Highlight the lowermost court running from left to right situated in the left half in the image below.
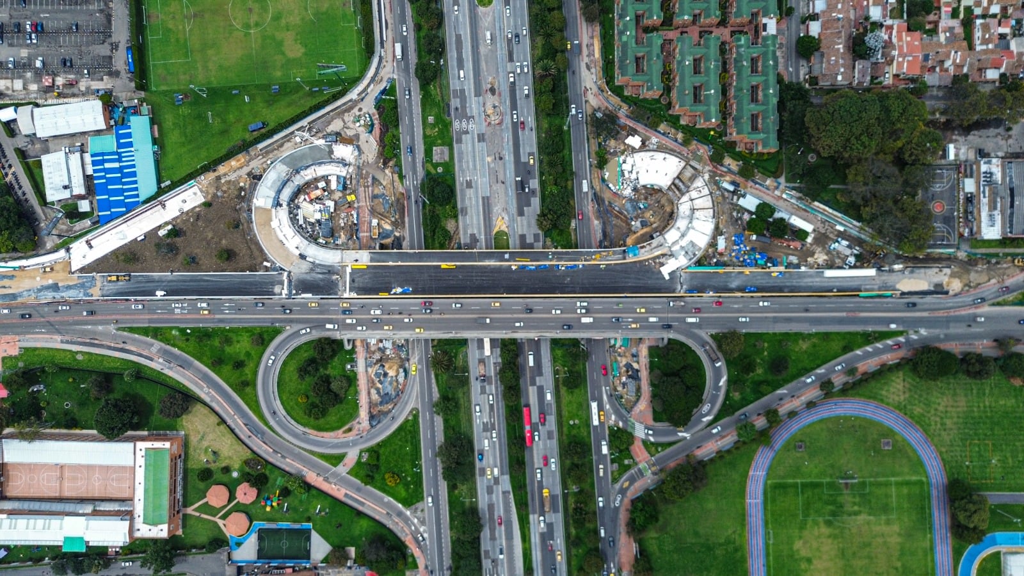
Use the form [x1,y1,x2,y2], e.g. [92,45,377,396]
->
[228,522,333,564]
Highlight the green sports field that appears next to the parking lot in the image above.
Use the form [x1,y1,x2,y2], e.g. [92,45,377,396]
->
[140,0,366,96]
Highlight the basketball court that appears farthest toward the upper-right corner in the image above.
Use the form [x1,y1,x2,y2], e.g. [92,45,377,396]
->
[919,165,959,245]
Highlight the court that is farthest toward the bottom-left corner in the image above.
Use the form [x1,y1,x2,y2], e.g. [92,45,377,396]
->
[0,460,134,499]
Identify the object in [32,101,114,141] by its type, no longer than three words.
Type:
building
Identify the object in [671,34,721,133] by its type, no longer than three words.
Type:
building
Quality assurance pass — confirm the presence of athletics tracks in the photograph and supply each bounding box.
[747,399,953,576]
